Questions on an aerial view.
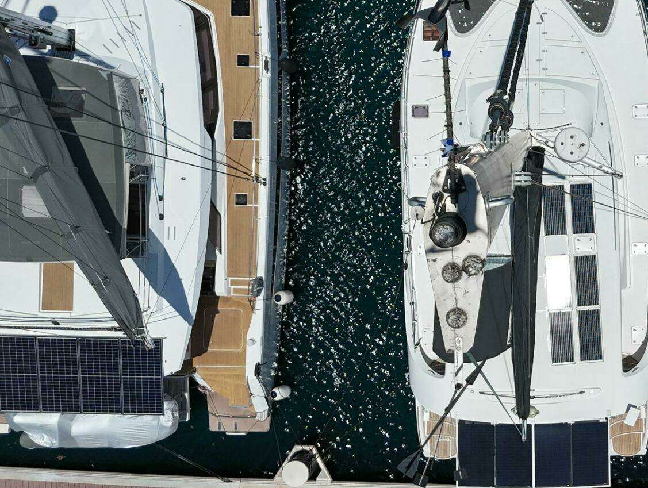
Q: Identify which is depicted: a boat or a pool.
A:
boat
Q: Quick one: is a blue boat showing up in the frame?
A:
No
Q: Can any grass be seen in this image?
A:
No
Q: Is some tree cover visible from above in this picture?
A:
No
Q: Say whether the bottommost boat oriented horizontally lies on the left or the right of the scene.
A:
left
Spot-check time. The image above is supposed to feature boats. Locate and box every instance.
[0,388,179,450]
[397,0,648,488]
[0,0,294,434]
